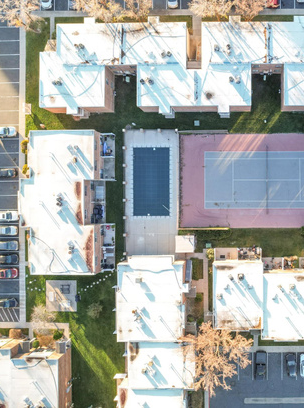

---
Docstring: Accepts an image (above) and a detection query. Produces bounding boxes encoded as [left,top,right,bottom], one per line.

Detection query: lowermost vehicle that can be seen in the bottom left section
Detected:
[0,295,19,307]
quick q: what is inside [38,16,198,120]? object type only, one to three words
building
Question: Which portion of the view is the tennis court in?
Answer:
right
